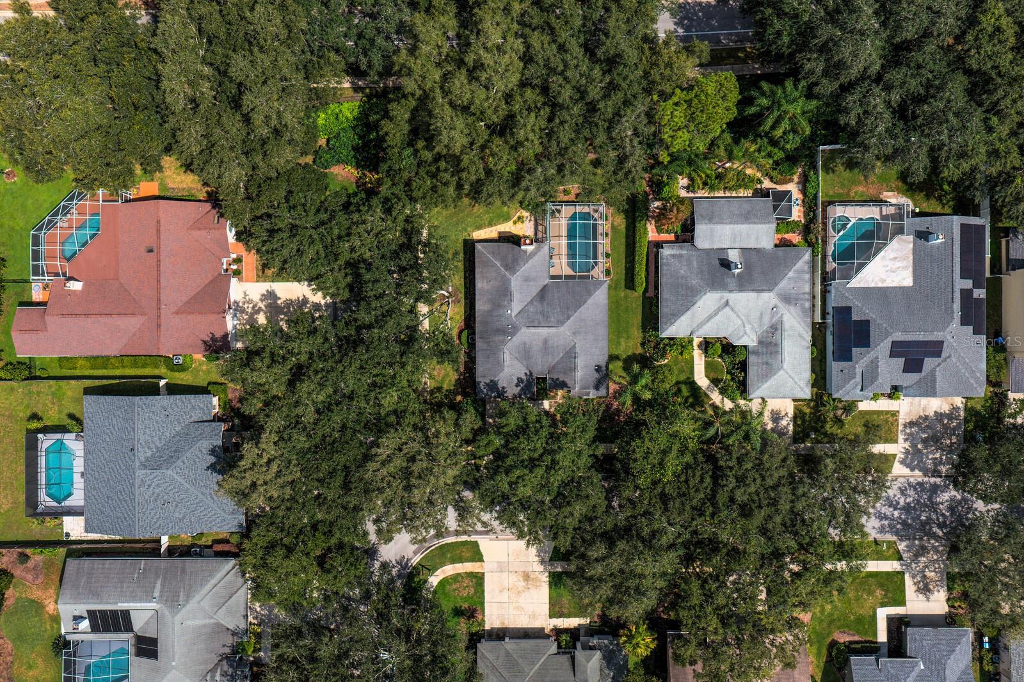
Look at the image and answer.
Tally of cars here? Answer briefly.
0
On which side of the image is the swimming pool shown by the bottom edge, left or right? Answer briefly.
left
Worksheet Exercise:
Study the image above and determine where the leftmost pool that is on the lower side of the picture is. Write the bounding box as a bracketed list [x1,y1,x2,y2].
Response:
[43,437,78,507]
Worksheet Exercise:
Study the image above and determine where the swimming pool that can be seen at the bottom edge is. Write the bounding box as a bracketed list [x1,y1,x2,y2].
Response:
[85,645,133,682]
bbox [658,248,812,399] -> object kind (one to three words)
house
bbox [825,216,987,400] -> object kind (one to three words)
house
